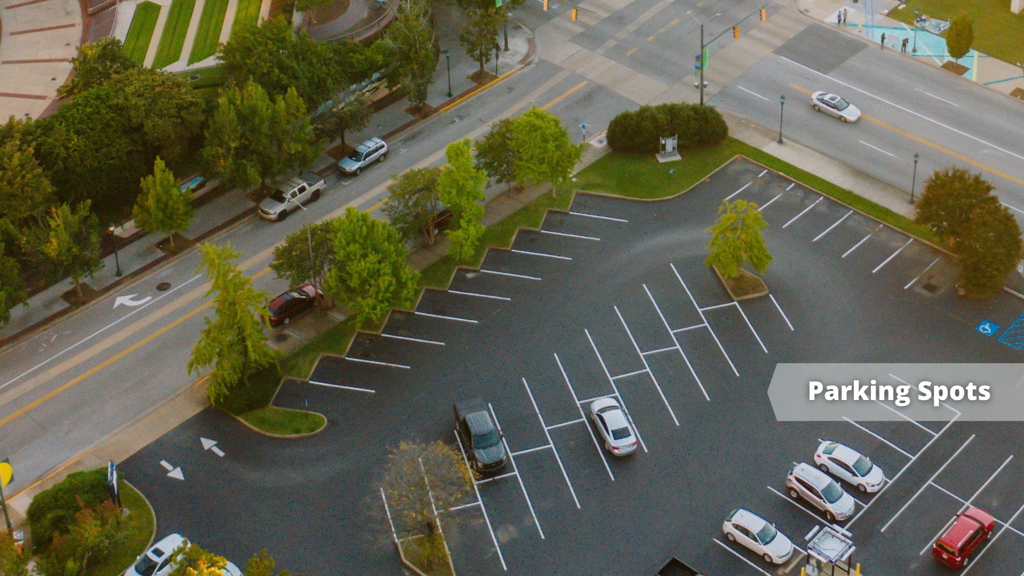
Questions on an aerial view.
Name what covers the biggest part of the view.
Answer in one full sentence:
The largest share of the image is taken up by paved ground.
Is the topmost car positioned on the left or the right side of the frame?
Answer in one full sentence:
The topmost car is on the right side of the image.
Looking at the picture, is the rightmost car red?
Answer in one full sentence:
Yes, the rightmost car is red.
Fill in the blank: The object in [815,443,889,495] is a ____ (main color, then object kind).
white car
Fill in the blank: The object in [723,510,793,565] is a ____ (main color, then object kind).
white car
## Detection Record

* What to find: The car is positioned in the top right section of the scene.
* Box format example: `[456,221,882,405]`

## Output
[807,91,864,124]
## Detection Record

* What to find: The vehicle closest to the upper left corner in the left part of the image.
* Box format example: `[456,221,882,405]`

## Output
[255,174,326,222]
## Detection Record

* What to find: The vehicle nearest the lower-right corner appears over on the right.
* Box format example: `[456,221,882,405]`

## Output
[935,506,1000,568]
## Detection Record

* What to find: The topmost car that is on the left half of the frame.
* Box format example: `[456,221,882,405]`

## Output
[336,136,390,177]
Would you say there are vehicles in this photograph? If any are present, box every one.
[255,174,326,222]
[807,91,864,124]
[260,286,325,326]
[455,399,506,470]
[935,506,1000,568]
[723,510,793,565]
[784,466,857,522]
[815,443,889,495]
[589,400,634,454]
[117,536,190,576]
[336,136,390,177]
